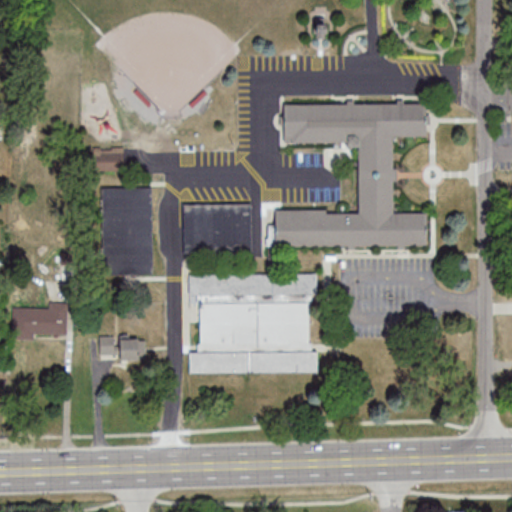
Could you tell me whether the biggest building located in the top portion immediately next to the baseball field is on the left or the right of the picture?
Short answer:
right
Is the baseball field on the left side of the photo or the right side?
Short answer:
left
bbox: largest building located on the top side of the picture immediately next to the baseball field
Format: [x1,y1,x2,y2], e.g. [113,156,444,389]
[266,99,428,247]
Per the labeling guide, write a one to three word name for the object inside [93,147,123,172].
building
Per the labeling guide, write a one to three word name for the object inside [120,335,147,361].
house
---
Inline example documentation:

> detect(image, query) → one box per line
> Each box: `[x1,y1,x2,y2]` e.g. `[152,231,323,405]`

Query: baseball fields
[68,0,275,126]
